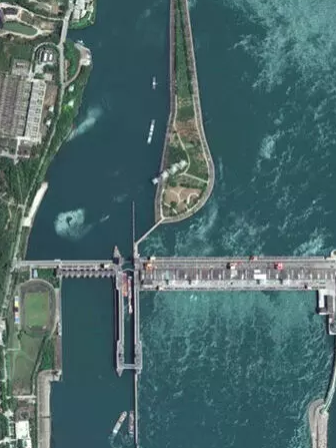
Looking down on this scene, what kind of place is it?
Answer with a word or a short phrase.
port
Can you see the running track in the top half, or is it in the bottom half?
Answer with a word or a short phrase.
bottom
